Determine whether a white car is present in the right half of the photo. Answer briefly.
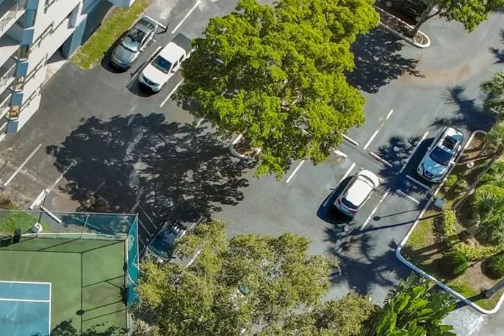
Yes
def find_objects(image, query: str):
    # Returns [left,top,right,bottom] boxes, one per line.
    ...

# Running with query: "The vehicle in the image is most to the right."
[411,128,466,186]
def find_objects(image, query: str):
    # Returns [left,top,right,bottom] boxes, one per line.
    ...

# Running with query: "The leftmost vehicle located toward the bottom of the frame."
[139,212,200,274]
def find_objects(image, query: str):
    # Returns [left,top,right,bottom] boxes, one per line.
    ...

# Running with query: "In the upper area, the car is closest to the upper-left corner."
[110,18,160,70]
